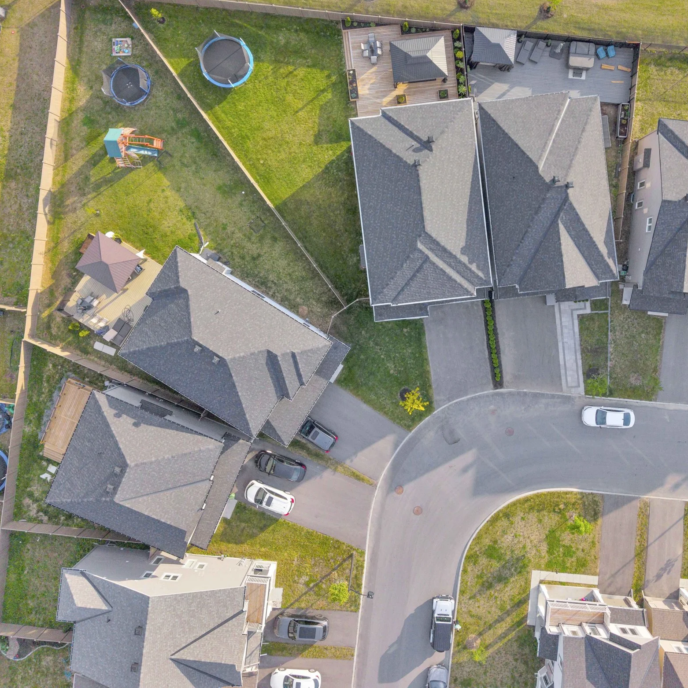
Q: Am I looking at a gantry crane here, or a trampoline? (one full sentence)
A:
It is a trampoline that can be seen here.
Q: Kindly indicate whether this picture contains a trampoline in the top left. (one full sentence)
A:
Yes, there is a trampoline in the top left.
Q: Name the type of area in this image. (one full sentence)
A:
What you see here is a residential area.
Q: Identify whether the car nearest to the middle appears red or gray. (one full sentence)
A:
From above, the car nearest to the middle appears gray.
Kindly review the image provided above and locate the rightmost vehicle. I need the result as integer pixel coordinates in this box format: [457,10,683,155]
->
[580,405,635,430]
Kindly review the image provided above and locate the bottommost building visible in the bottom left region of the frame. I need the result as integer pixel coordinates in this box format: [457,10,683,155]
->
[55,546,277,688]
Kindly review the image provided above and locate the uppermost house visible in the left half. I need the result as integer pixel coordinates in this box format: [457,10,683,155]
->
[116,242,352,448]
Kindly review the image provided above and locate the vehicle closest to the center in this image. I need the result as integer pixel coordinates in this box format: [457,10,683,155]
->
[297,415,341,456]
